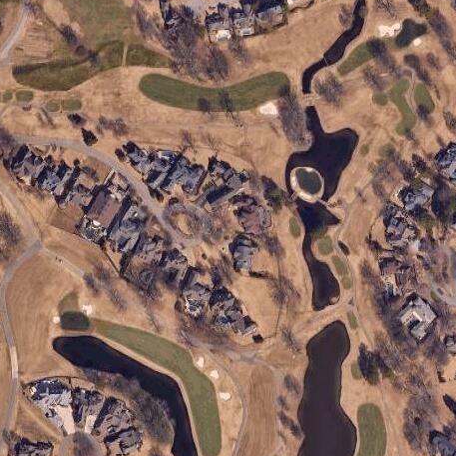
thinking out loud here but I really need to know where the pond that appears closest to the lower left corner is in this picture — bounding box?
[53,336,198,456]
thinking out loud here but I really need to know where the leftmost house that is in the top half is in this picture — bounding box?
[6,146,42,187]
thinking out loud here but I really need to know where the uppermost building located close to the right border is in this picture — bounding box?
[433,142,456,178]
